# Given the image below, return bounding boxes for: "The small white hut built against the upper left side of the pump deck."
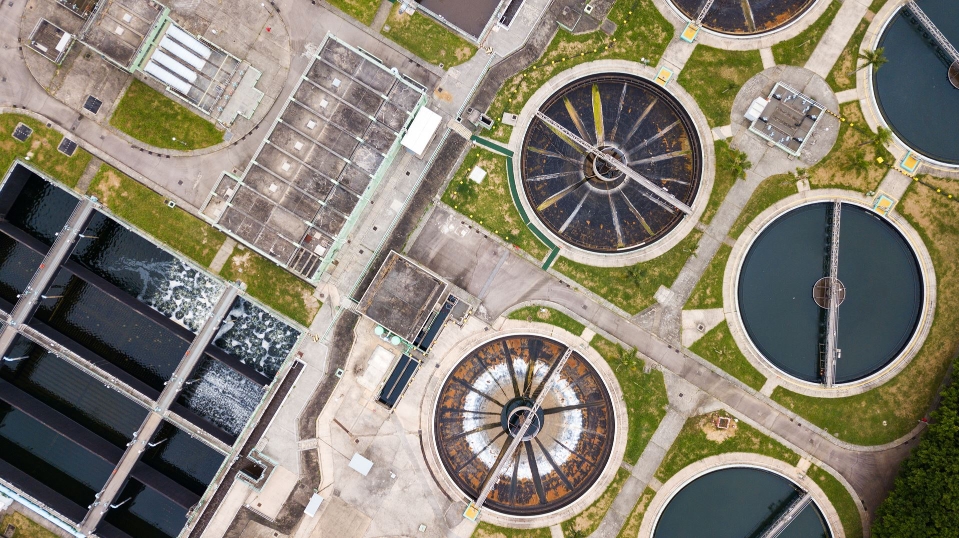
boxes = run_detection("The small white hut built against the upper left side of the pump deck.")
[741,97,770,124]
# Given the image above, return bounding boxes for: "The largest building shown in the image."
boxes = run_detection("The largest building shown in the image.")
[198,31,429,284]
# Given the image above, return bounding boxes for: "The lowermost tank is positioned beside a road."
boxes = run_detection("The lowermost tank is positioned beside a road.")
[637,452,848,538]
